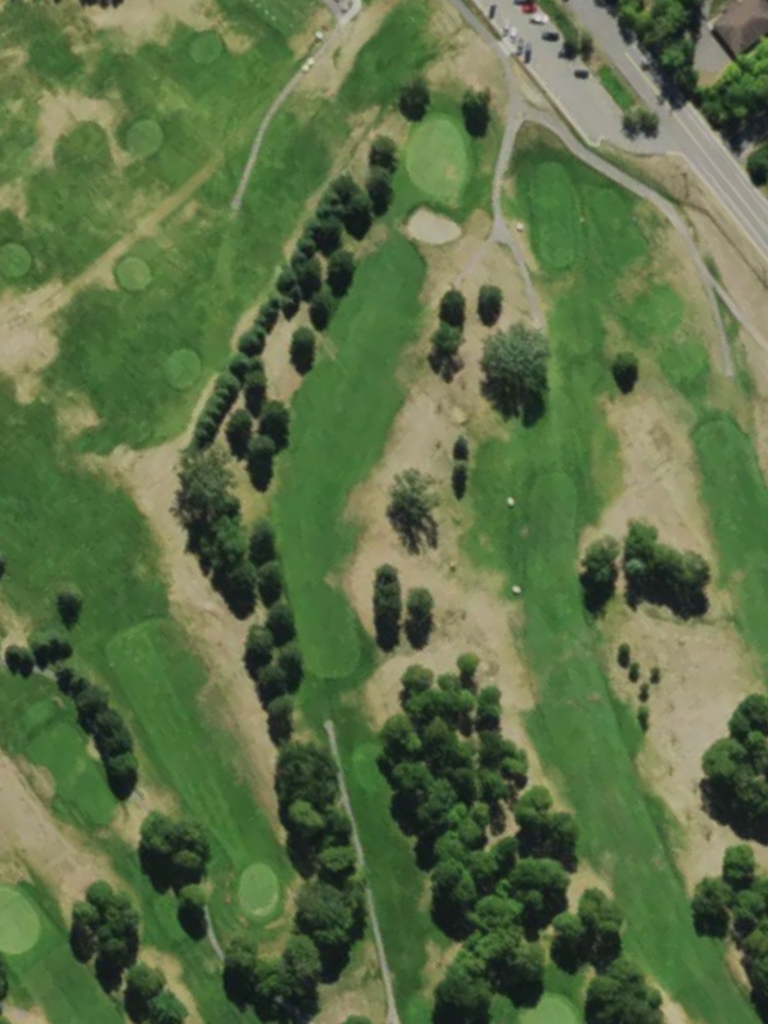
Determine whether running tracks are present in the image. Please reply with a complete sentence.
No, I find no running track anywhere in the image.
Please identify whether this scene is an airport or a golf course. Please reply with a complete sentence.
This looks like a golf course.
